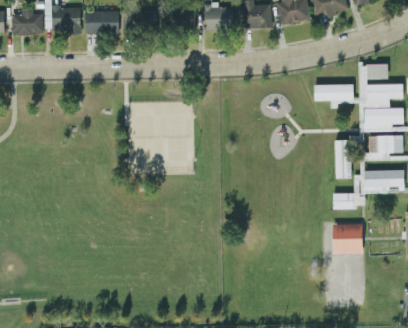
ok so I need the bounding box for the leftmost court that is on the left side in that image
[130,103,162,174]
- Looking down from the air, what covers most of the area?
grass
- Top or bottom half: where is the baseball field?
bottom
